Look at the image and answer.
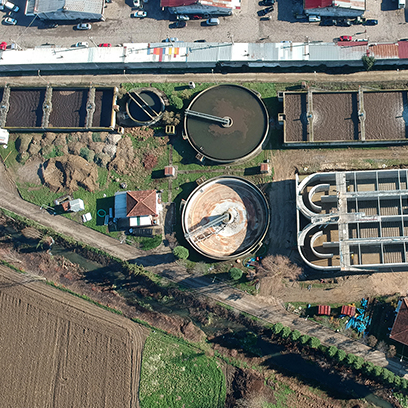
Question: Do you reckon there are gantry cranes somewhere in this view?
No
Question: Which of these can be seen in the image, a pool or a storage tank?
storage tank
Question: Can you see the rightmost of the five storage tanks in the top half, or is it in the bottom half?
top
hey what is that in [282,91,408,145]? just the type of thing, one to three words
storage tank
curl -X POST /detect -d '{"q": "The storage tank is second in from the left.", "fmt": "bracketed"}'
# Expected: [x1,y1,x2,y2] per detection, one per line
[125,89,169,128]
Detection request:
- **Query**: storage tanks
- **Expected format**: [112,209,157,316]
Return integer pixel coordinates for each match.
[181,85,271,166]
[125,89,169,128]
[0,88,122,132]
[178,175,272,264]
[282,91,408,145]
